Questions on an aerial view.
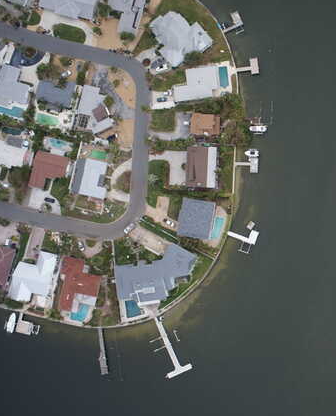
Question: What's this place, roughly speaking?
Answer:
residential area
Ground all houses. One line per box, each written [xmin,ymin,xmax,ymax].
[115,242,199,305]
[173,66,222,99]
[177,197,217,238]
[190,112,221,134]
[57,254,103,311]
[27,151,72,191]
[150,10,214,73]
[36,79,78,109]
[188,137,218,188]
[110,0,148,36]
[0,65,35,104]
[76,84,115,136]
[72,158,110,199]
[38,0,99,20]
[6,252,60,305]
[0,136,32,178]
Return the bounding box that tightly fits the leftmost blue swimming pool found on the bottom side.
[70,302,90,321]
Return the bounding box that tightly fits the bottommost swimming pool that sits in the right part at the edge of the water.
[210,215,226,241]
